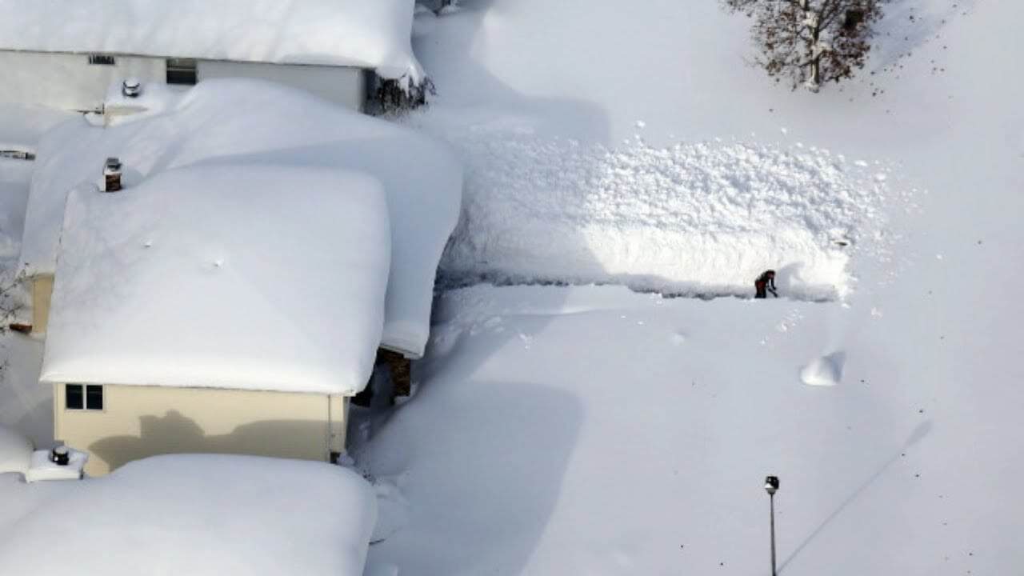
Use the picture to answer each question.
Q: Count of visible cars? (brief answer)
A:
0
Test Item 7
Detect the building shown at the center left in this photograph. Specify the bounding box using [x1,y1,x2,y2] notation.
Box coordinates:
[12,79,468,473]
